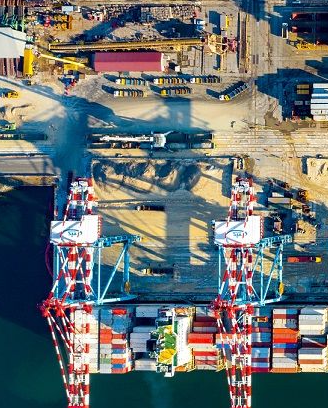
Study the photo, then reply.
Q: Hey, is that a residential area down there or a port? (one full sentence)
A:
It's a port.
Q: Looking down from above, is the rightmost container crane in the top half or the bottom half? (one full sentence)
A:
The bottom half of the photo is where the rightmost container crane is.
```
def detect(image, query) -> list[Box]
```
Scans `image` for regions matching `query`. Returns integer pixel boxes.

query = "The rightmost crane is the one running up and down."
[213,184,298,408]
